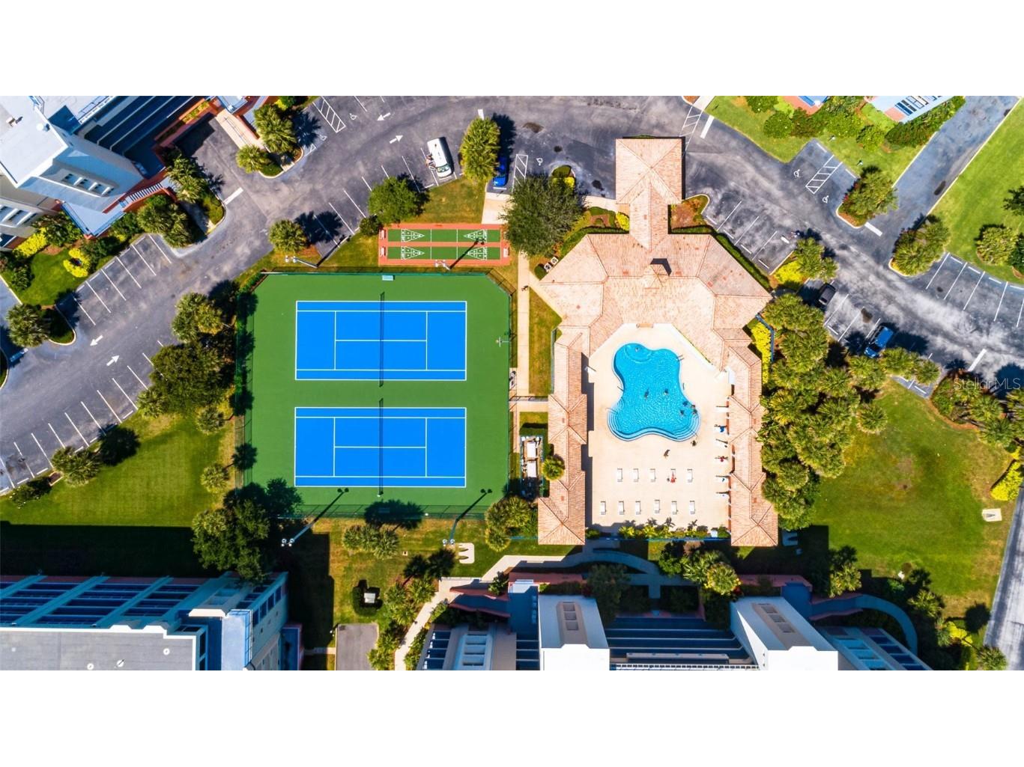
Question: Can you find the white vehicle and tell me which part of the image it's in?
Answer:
top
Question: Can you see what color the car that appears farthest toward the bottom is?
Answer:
blue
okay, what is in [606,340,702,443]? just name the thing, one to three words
swimming pool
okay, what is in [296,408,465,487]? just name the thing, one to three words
tennis court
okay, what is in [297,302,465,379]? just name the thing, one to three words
tennis court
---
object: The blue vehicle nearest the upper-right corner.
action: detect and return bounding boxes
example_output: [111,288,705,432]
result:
[861,325,893,358]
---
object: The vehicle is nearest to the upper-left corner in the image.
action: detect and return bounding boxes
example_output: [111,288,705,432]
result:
[428,137,452,182]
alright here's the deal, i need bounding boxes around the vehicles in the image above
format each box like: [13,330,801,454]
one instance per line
[861,325,893,358]
[493,157,509,191]
[810,279,840,313]
[428,137,452,182]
